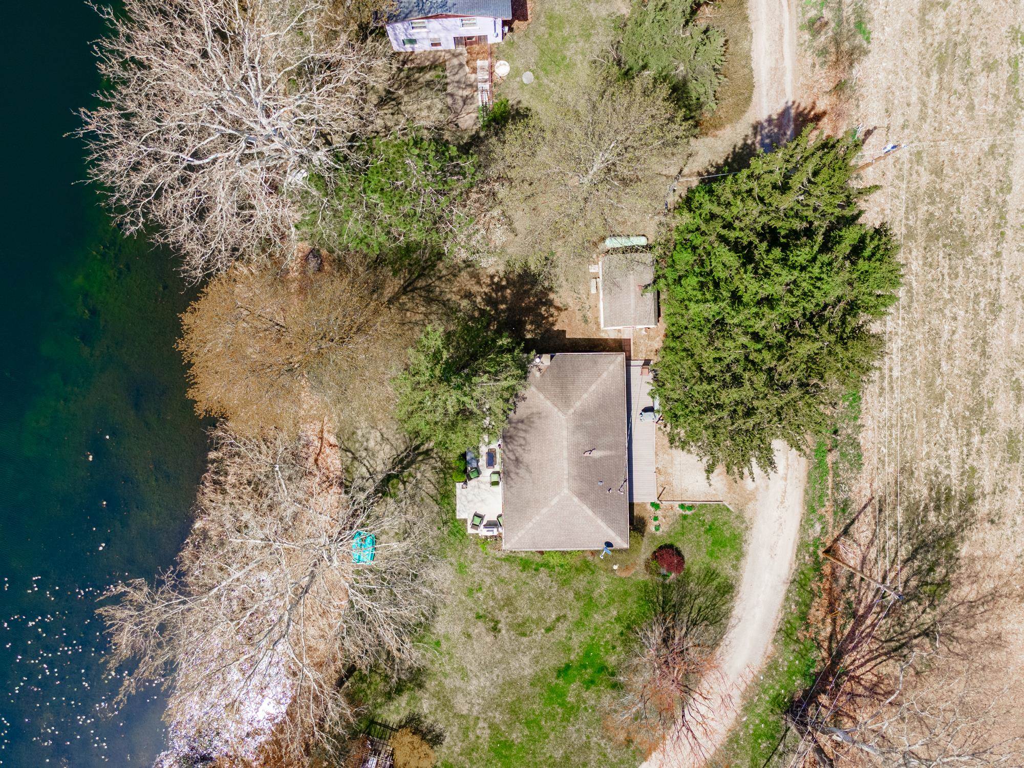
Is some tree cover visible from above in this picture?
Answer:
Yes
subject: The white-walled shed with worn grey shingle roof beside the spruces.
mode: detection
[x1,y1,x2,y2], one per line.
[599,252,657,326]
